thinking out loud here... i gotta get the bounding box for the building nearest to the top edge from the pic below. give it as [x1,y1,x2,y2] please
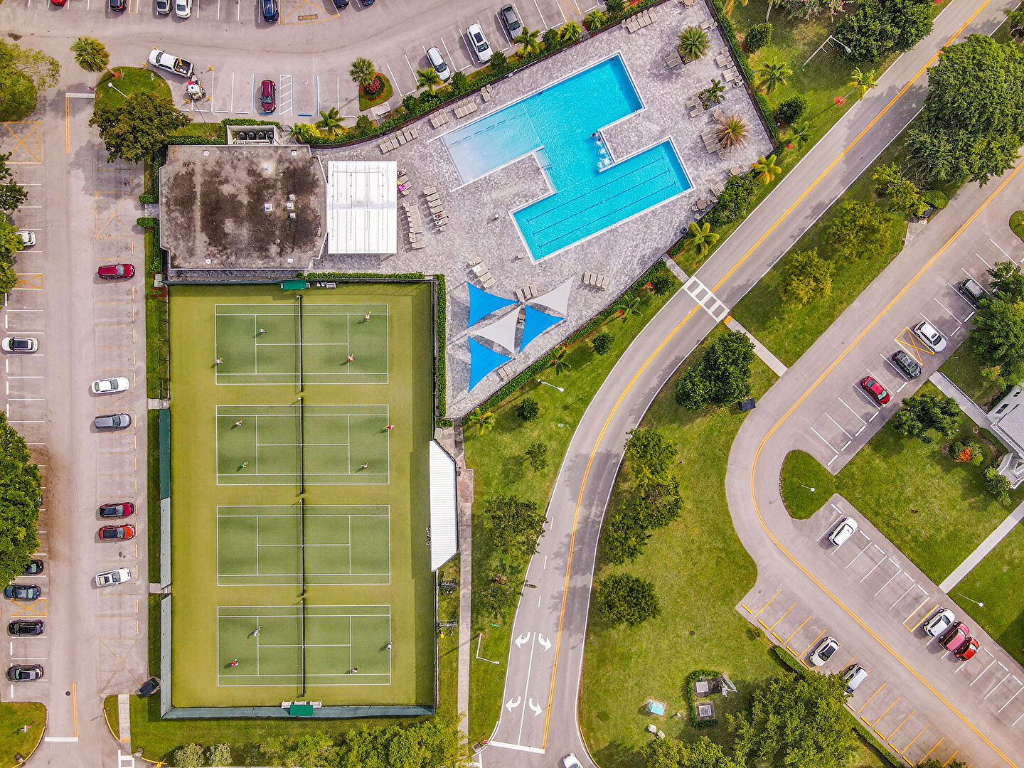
[159,145,328,271]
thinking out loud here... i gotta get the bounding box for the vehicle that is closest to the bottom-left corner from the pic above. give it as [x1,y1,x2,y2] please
[6,664,45,683]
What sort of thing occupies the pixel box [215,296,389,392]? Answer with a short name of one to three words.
tennis court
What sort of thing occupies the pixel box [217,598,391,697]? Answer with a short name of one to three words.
tennis court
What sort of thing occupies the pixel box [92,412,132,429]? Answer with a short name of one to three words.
car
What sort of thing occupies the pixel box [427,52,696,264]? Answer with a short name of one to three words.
swimming pool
